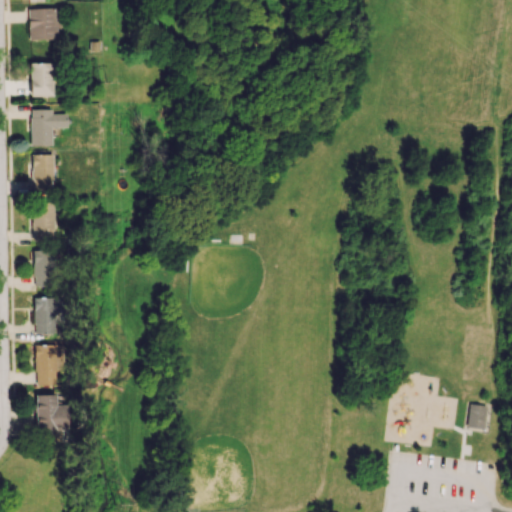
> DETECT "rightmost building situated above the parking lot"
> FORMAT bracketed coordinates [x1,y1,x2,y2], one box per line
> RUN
[467,402,487,430]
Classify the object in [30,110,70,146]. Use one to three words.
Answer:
house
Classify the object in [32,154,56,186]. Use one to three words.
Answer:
house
